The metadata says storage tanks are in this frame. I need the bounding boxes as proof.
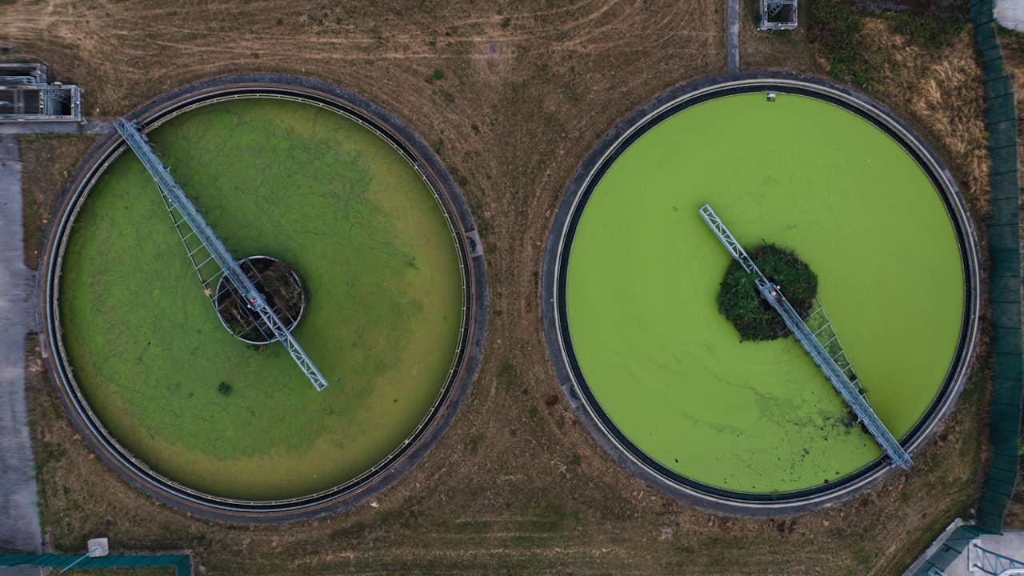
[552,79,981,507]
[41,82,477,517]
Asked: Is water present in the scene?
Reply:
Yes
